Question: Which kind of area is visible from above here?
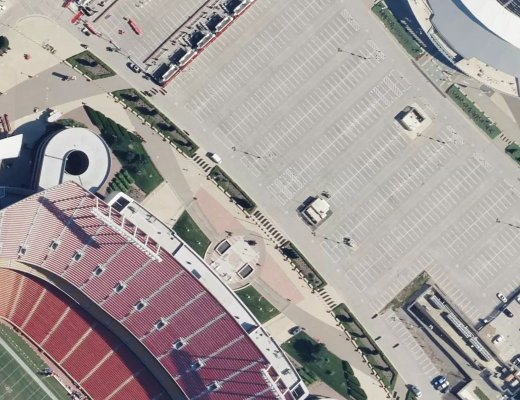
sports ground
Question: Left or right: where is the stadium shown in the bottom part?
left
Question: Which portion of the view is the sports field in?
bottom left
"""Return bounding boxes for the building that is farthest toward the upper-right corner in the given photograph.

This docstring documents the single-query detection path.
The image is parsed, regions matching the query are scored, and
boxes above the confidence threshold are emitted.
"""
[400,108,425,131]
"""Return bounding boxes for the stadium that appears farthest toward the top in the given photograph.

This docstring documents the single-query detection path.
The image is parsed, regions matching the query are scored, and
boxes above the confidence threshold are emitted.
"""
[400,0,520,106]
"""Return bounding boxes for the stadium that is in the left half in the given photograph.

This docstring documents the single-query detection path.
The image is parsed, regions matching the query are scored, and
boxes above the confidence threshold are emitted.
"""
[0,180,312,400]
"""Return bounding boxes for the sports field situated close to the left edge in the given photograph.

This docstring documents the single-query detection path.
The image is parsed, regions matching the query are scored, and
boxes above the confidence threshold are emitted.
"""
[0,320,90,400]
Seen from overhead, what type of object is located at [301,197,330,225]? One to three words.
building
